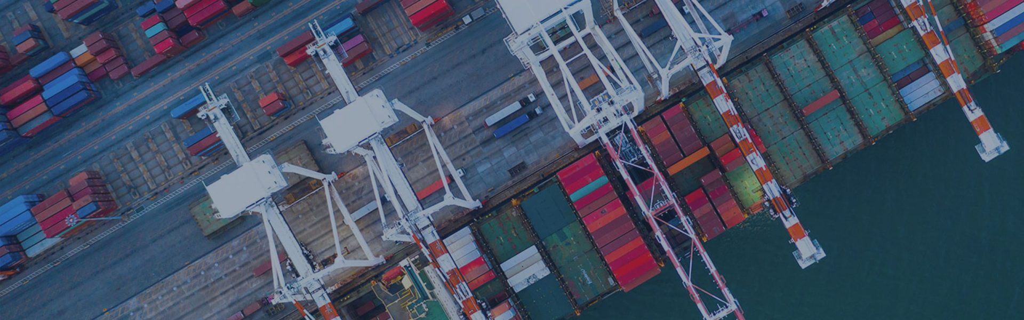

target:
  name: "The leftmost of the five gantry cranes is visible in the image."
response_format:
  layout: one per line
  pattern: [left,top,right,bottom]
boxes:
[190,82,398,320]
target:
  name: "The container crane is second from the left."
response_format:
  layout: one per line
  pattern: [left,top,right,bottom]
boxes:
[299,19,498,320]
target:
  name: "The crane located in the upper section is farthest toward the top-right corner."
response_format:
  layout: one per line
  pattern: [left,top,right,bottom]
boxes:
[894,0,1010,165]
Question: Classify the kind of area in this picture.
port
